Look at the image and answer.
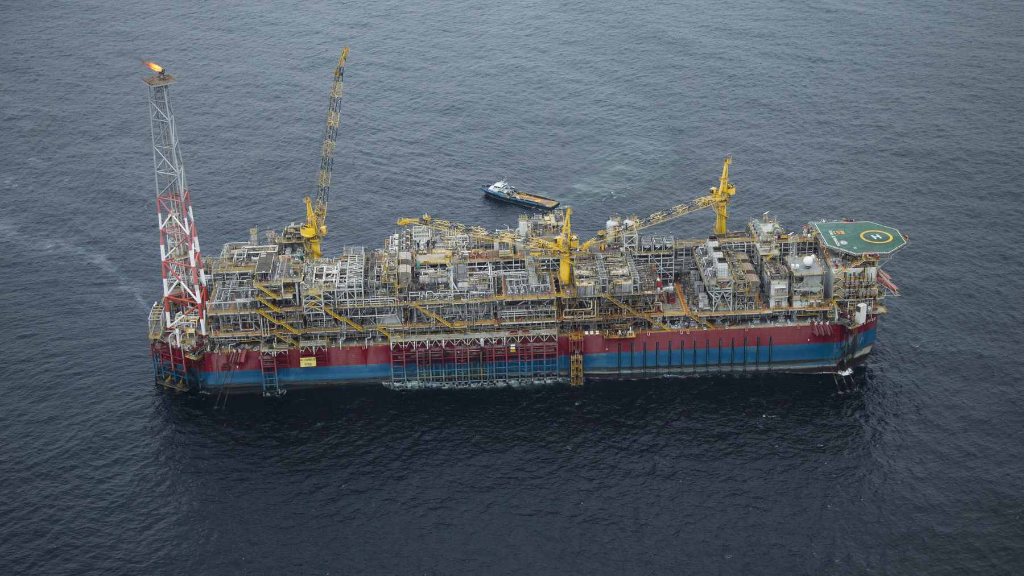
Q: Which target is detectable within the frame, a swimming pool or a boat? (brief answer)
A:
boat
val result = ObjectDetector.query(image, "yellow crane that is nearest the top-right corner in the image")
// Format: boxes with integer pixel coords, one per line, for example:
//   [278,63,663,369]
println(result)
[581,153,738,248]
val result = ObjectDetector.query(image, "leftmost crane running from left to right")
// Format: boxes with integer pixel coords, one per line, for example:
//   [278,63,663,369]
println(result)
[393,203,581,289]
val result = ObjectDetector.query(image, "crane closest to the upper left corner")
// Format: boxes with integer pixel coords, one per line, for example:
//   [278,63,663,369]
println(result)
[297,44,347,260]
